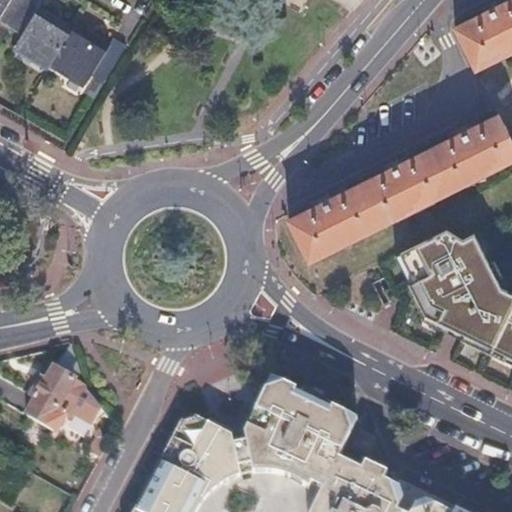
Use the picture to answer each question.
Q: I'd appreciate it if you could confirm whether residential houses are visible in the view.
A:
Yes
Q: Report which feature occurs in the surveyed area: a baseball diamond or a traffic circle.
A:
traffic circle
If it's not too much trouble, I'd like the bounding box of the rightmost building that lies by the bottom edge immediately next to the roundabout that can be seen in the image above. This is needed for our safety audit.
[243,376,472,512]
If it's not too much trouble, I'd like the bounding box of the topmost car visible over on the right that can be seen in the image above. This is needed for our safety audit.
[348,34,366,54]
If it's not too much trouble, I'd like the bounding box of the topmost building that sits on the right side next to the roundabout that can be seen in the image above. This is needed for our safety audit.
[289,114,512,265]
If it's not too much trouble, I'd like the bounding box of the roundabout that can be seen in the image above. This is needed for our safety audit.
[84,169,268,351]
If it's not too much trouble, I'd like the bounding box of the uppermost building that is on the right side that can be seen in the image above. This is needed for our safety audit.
[453,0,512,74]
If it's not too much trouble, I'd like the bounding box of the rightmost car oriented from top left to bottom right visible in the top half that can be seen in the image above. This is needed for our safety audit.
[130,0,148,18]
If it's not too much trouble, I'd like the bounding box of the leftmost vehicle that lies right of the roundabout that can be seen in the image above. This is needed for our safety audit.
[282,328,302,344]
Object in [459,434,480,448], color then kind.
white car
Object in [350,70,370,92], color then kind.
gray car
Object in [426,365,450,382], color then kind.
gray car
